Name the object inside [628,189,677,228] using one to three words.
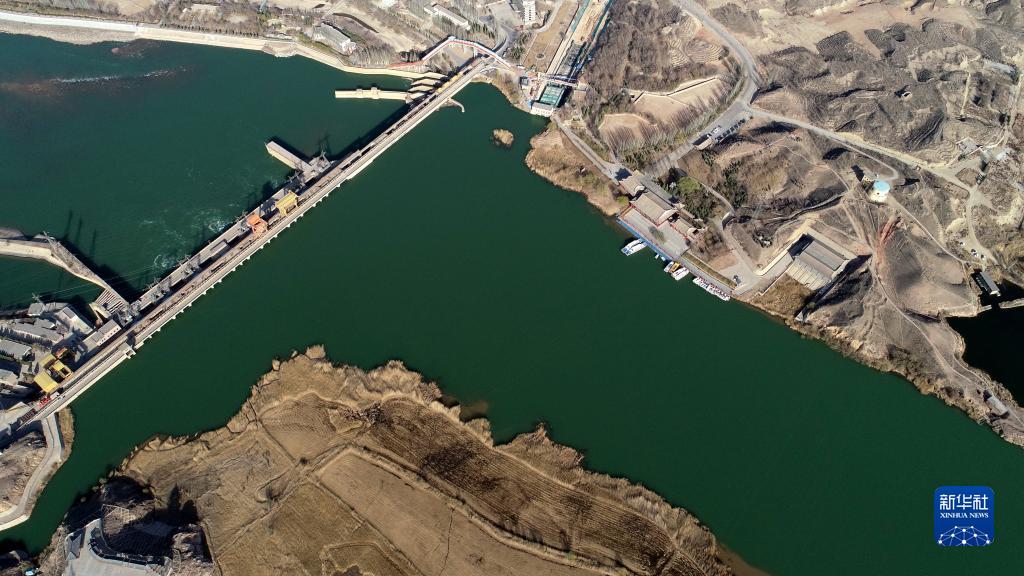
building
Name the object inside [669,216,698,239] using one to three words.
building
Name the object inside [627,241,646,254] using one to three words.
boat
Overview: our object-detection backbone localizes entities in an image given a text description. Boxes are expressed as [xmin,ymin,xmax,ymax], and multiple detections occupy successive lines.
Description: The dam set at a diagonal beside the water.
[9,53,496,438]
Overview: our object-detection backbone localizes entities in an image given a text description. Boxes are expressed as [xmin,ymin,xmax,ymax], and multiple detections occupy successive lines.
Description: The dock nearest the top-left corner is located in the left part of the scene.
[267,143,309,174]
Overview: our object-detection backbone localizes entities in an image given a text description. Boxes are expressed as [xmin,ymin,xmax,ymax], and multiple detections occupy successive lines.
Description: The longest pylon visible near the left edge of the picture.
[36,230,60,254]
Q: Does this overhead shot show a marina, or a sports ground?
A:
marina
